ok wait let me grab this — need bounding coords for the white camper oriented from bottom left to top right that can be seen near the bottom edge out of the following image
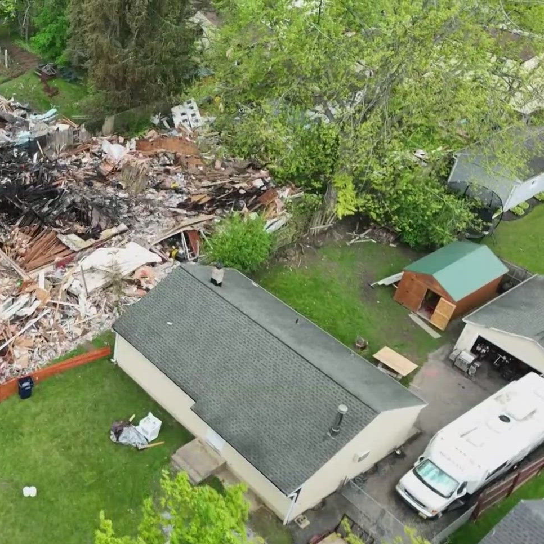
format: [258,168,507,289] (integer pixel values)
[394,361,544,524]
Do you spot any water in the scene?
No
